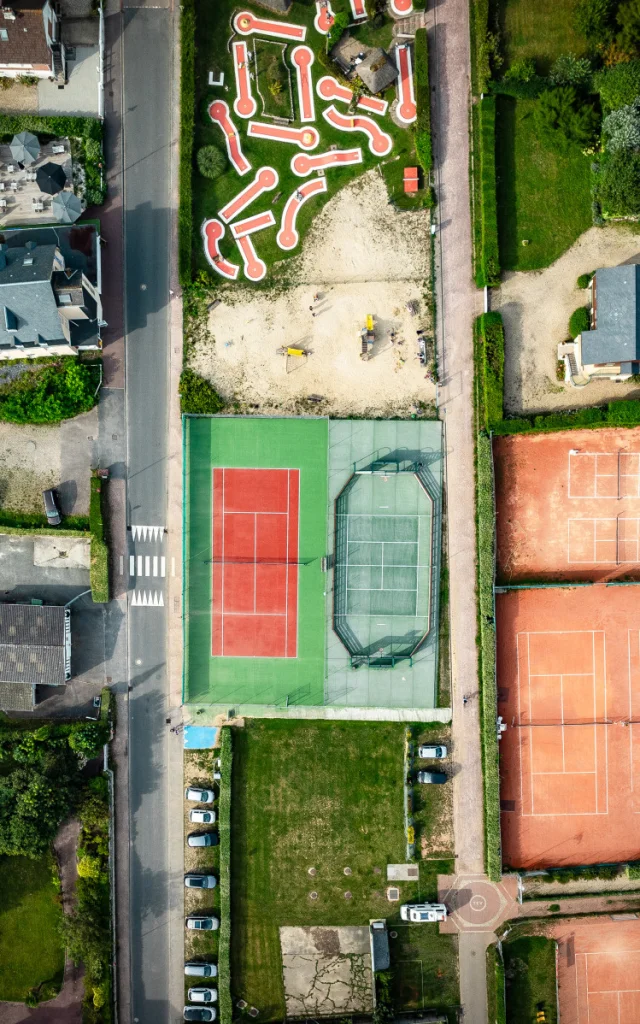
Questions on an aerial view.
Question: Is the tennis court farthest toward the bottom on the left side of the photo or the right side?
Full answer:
It is on the right.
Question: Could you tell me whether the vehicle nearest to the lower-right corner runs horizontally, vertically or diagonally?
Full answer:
In this picture, the vehicle nearest to the lower-right corner lies horizontally.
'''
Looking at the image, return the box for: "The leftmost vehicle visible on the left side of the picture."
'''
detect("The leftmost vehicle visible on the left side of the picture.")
[43,489,64,526]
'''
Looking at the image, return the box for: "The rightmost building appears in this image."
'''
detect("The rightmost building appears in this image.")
[557,261,640,384]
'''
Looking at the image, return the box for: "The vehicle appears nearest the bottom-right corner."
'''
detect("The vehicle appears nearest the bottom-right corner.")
[400,900,448,921]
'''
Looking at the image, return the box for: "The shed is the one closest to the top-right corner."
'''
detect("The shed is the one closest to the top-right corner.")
[356,48,399,96]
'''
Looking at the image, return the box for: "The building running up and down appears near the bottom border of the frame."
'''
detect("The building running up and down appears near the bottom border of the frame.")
[371,917,389,1018]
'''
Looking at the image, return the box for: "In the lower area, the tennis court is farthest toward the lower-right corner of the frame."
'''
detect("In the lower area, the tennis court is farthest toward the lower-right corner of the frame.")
[557,915,640,1024]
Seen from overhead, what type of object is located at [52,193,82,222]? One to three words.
umbrella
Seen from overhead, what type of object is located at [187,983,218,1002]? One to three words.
car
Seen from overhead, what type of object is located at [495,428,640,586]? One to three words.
tennis court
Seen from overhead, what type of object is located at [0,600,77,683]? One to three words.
building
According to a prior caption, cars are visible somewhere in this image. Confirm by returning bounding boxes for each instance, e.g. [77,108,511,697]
[183,1001,217,1021]
[187,829,219,847]
[417,768,448,785]
[184,958,218,978]
[185,912,220,932]
[418,742,447,759]
[185,784,216,803]
[43,489,64,526]
[187,983,218,1002]
[188,806,217,824]
[184,871,217,890]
